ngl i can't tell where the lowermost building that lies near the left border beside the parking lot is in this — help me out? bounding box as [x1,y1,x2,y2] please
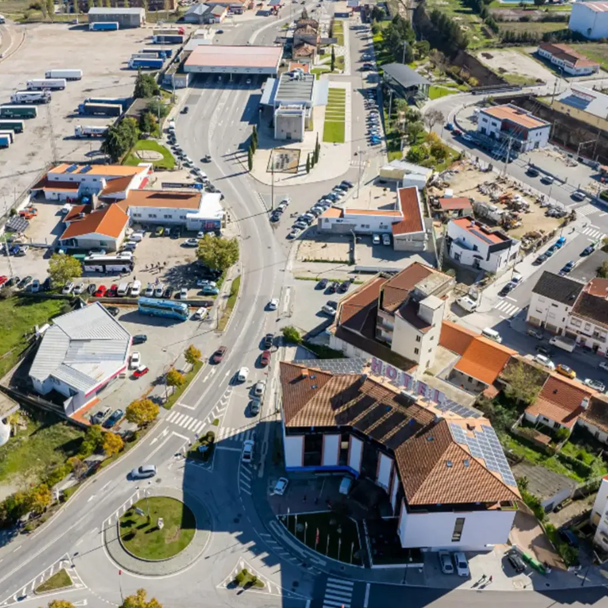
[29,302,133,413]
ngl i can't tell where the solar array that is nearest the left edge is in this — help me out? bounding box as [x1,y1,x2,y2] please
[4,215,32,237]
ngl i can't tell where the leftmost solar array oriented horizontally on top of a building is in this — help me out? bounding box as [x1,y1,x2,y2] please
[297,357,369,371]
